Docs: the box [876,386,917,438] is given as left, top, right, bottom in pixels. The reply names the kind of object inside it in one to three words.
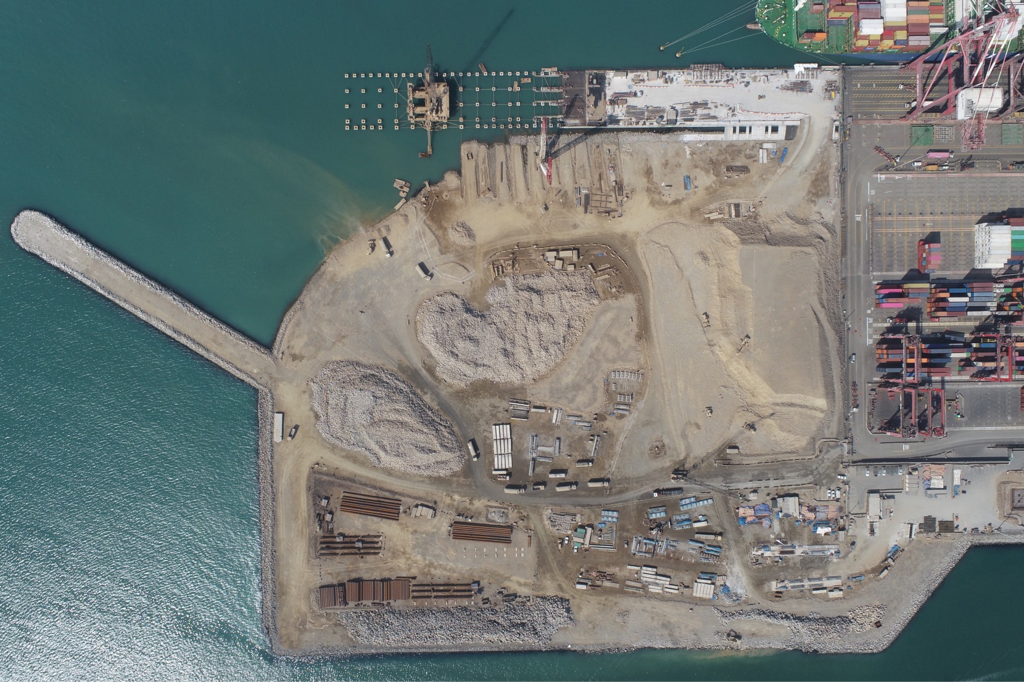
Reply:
container crane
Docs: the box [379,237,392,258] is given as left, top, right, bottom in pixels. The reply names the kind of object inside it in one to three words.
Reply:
vehicle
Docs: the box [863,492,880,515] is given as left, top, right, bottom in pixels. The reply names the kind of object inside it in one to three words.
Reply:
building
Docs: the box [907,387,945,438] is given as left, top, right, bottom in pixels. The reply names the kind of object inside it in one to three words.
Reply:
container crane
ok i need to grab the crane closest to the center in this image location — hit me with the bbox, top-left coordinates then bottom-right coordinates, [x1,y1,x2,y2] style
[540,115,552,185]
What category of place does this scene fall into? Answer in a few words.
port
